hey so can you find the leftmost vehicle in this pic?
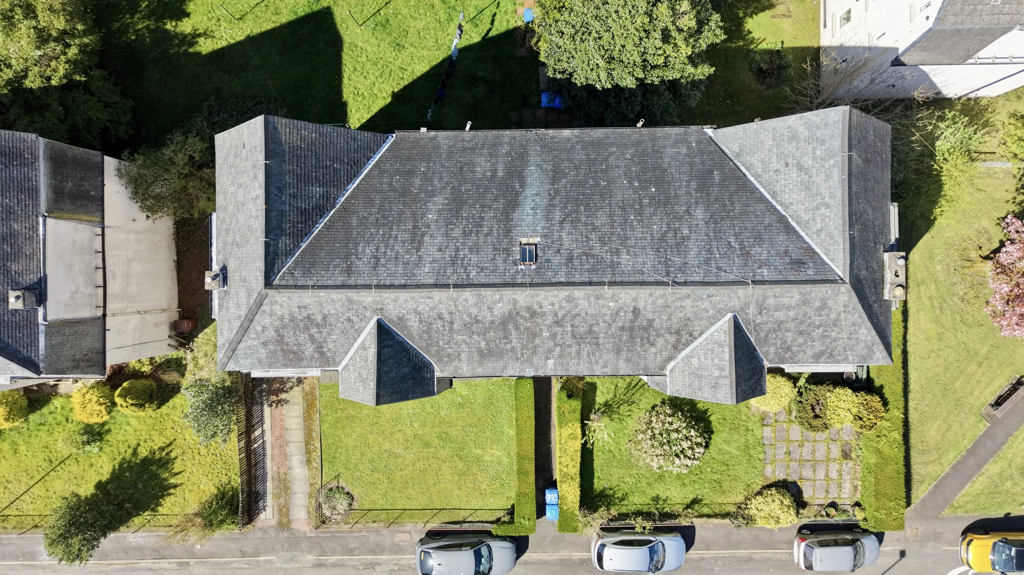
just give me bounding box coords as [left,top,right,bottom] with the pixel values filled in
[416,532,517,575]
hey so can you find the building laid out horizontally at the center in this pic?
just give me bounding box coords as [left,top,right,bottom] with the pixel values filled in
[205,106,905,405]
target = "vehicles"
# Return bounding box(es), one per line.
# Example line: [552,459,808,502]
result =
[955,528,1024,575]
[416,532,517,575]
[591,526,685,575]
[791,527,877,575]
